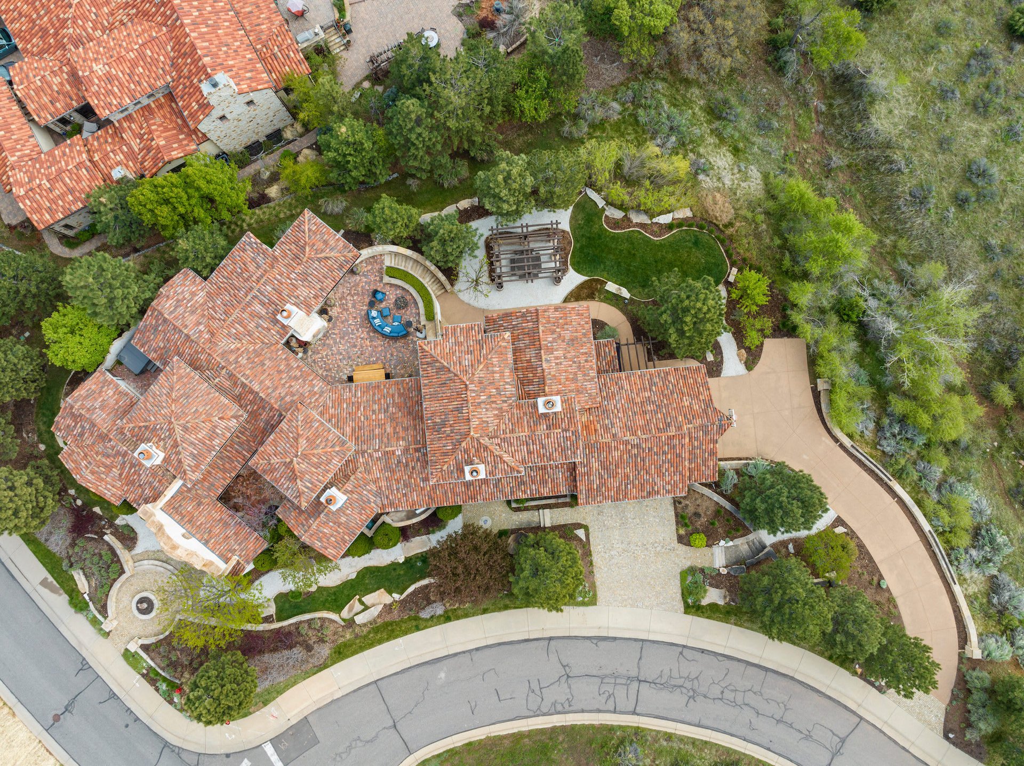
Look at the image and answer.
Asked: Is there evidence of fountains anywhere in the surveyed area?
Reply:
Yes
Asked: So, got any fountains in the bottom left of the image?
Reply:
Yes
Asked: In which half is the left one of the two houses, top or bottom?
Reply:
top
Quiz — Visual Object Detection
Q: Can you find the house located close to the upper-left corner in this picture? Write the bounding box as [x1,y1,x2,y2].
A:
[0,0,312,238]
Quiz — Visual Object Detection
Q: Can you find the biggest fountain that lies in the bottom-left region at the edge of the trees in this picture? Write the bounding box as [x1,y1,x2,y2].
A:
[129,592,158,621]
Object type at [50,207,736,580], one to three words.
house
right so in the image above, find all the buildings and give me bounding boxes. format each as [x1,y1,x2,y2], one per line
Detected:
[50,207,736,580]
[0,0,312,238]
